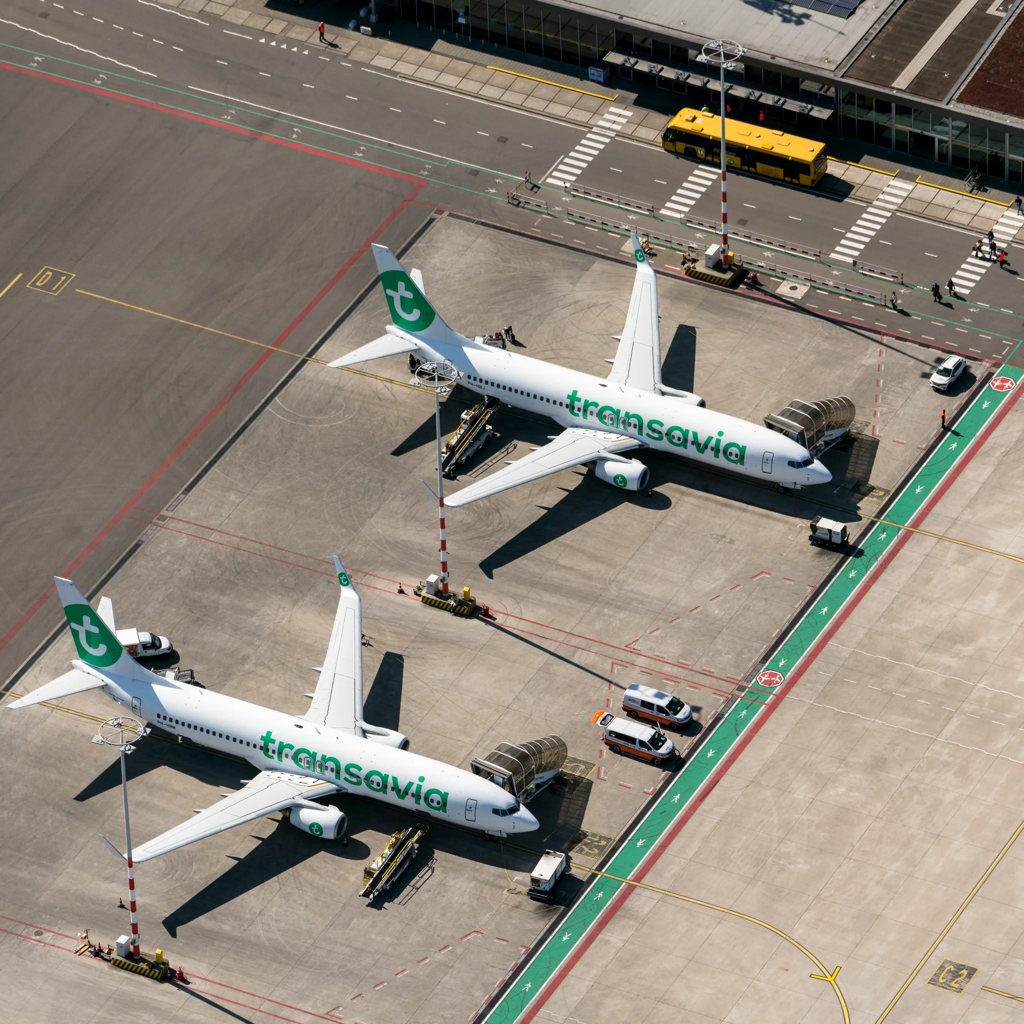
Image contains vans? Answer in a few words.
Yes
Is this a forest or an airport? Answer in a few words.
airport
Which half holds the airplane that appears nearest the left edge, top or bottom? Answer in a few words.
bottom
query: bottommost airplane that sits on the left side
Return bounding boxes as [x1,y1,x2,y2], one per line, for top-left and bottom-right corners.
[7,556,539,859]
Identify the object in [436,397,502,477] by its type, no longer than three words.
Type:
work vehicle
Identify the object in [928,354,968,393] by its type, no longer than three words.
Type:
car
